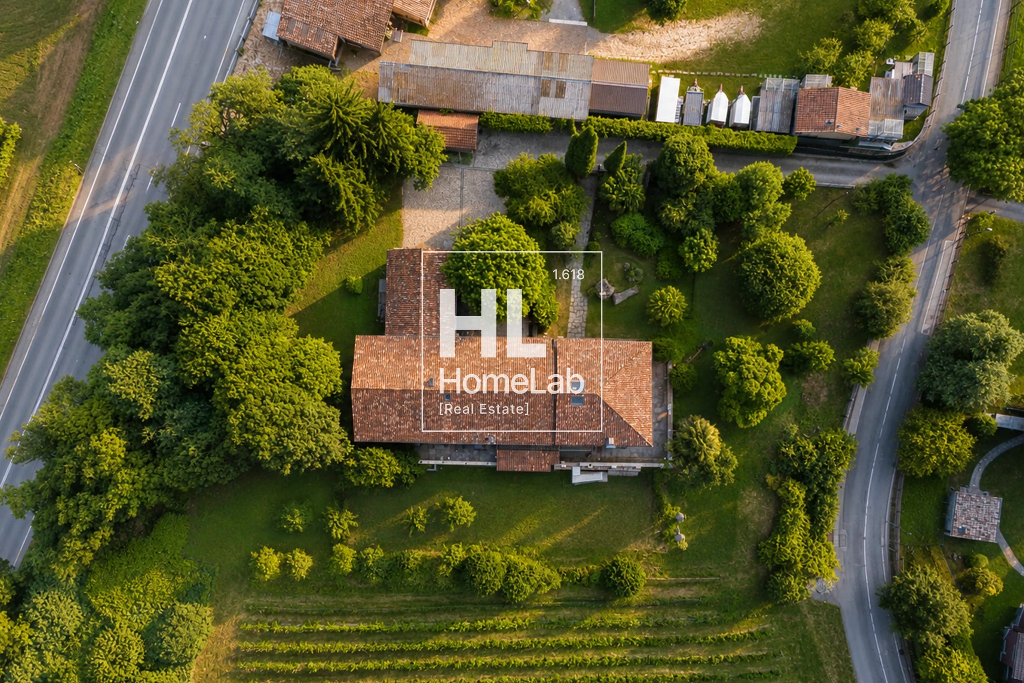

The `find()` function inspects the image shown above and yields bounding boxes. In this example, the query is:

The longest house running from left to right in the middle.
[351,335,654,448]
